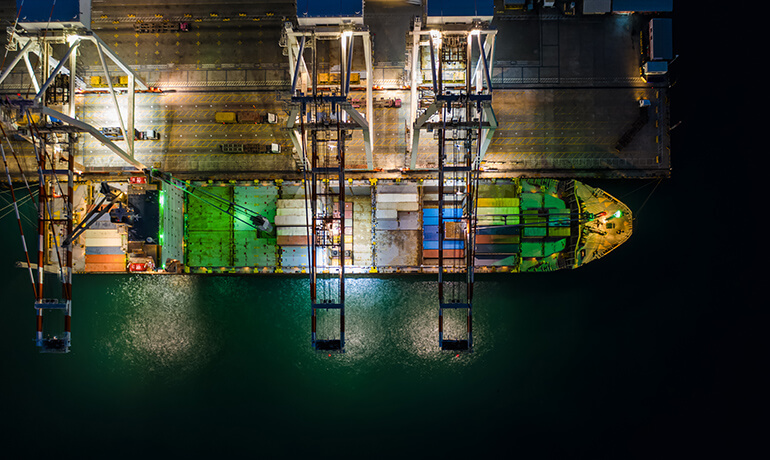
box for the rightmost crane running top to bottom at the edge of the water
[396,0,500,355]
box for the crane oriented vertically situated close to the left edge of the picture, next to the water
[0,0,162,354]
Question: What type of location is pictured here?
port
